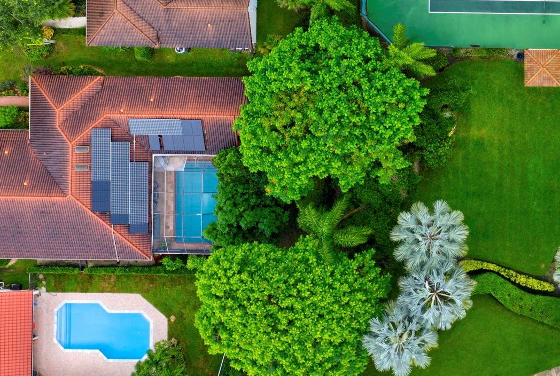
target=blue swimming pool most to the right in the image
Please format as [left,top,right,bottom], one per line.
[171,158,227,247]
